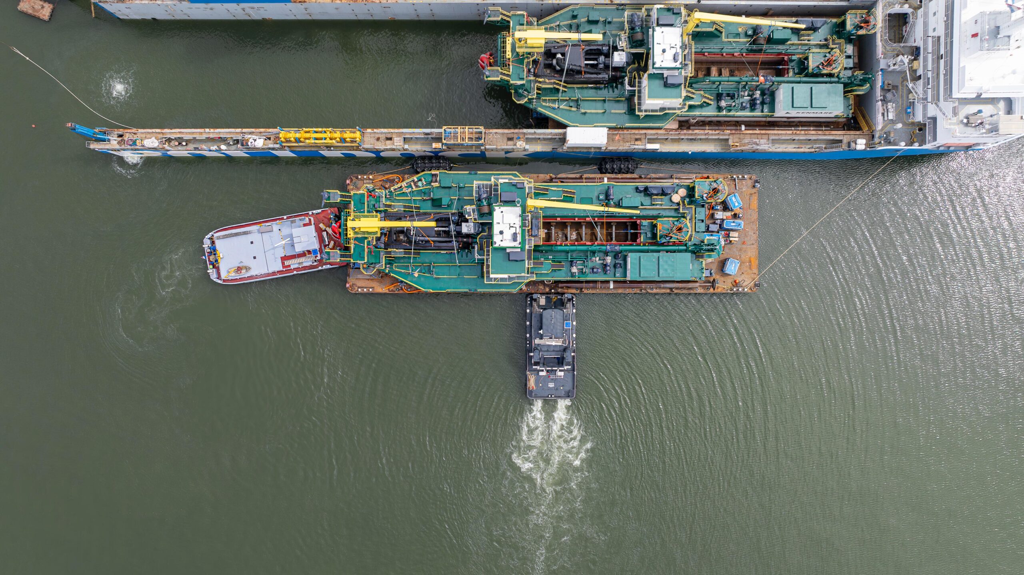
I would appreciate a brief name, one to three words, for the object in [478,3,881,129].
ship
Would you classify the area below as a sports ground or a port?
port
